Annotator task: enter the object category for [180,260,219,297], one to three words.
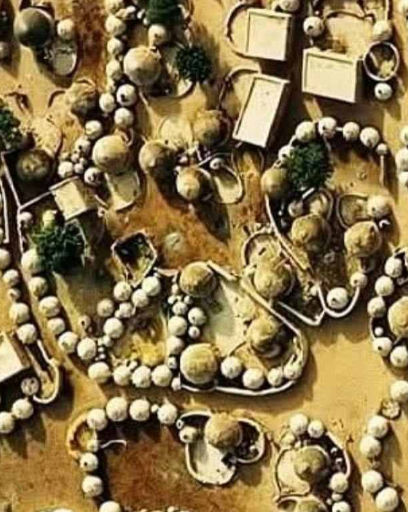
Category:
shed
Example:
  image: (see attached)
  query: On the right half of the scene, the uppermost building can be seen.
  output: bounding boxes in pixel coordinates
[245,9,299,60]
